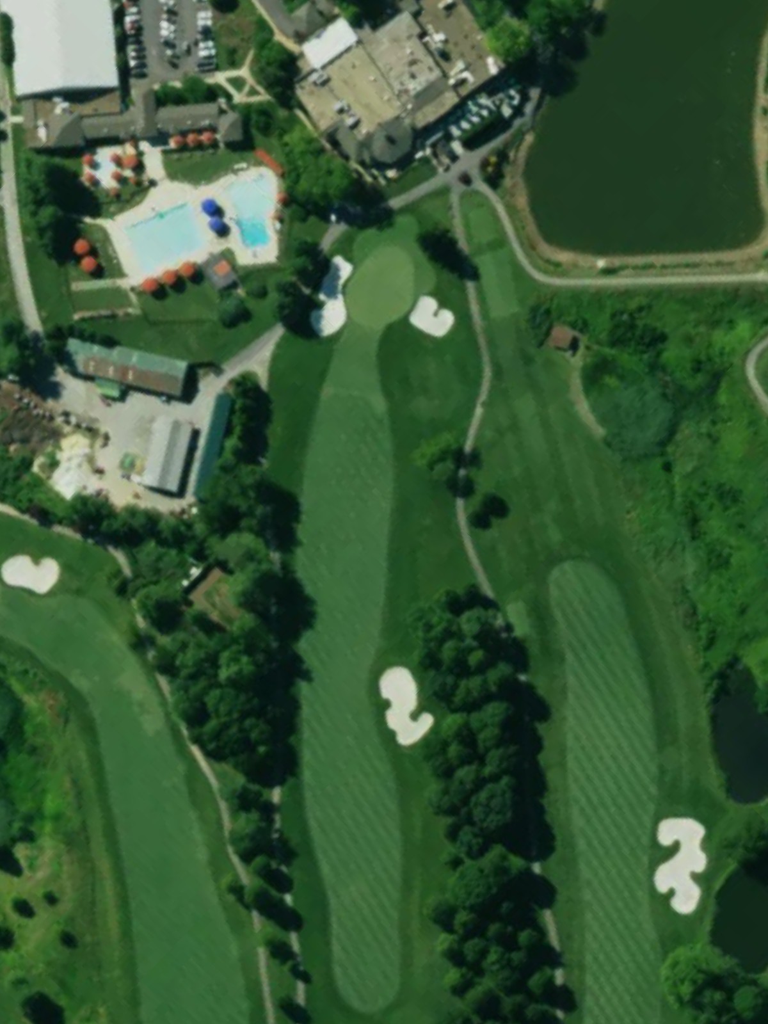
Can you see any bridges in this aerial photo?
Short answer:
No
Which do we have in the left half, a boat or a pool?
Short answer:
pool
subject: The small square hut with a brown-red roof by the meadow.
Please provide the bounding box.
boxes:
[547,325,578,352]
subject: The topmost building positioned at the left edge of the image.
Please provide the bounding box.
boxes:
[7,0,118,95]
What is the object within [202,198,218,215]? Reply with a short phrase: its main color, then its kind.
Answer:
blue umbrella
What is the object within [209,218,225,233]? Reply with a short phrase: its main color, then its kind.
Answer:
blue umbrella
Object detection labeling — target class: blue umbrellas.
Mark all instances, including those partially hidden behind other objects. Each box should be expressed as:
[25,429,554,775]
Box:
[202,198,218,215]
[209,218,225,233]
